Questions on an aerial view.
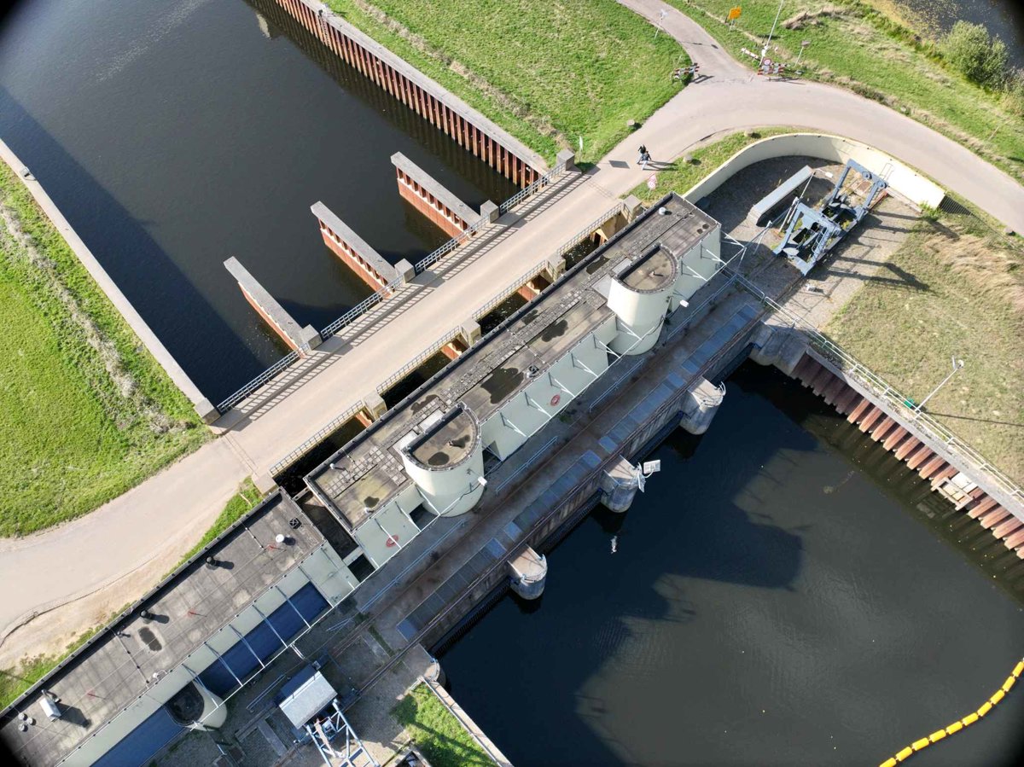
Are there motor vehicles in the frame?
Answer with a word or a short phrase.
No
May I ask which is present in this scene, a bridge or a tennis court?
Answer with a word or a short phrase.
bridge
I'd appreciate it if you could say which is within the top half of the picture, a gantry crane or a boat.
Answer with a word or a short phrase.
gantry crane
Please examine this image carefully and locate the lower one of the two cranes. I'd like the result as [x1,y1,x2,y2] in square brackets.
[270,649,383,767]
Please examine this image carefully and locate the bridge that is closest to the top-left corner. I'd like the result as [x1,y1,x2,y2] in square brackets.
[193,151,648,496]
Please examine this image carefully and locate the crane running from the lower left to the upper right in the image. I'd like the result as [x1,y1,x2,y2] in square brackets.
[769,157,891,276]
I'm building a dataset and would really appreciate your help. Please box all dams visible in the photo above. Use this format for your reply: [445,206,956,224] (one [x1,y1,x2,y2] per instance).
[205,194,883,767]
